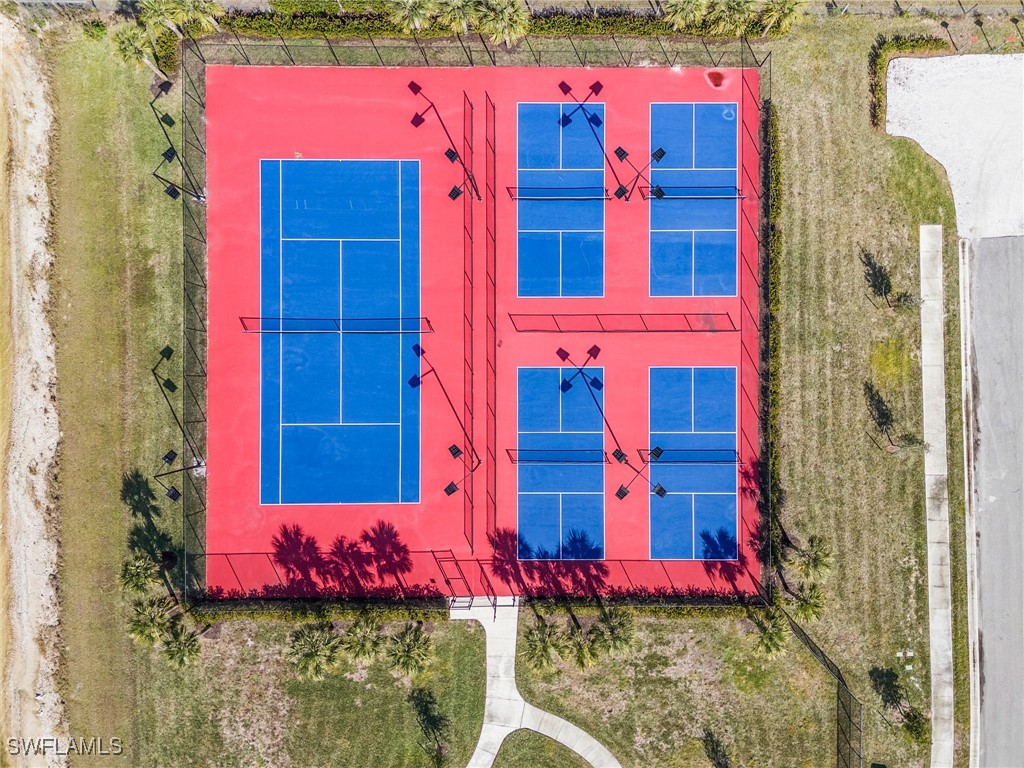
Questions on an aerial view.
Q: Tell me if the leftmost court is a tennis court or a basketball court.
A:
tennis court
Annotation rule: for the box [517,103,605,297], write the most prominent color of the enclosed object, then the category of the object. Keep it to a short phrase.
blue sports court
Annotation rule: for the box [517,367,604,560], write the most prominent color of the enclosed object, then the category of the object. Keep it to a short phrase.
blue sports court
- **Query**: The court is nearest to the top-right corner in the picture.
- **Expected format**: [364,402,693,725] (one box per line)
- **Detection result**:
[650,103,738,297]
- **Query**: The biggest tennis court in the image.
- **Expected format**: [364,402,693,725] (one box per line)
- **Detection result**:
[260,160,419,504]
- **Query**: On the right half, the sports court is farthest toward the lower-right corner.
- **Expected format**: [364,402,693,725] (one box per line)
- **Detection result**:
[650,367,737,560]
